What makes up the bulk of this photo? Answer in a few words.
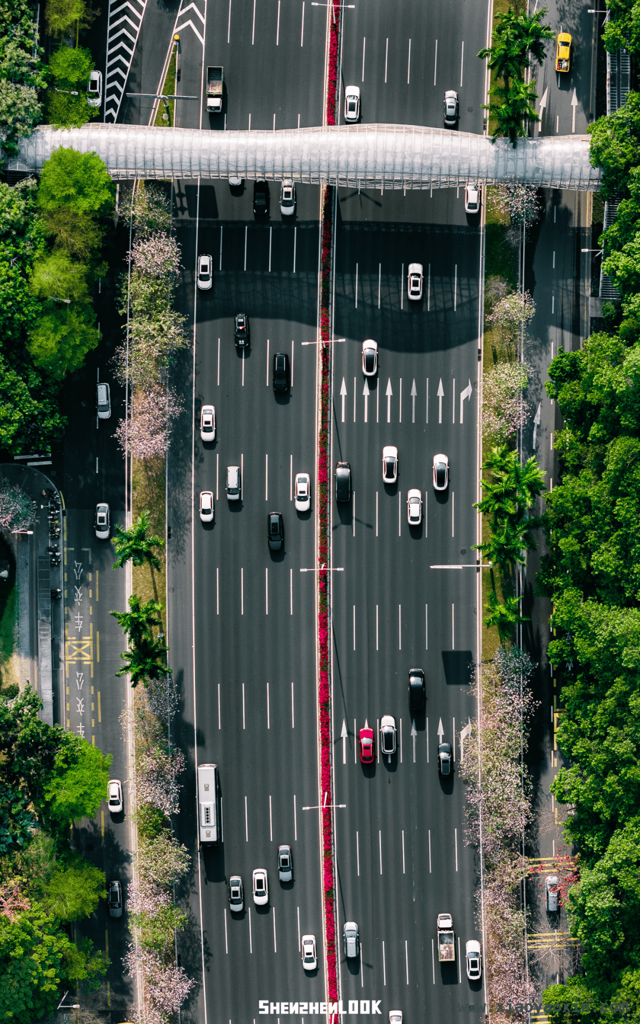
paved ground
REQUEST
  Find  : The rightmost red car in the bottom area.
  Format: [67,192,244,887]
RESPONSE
[359,727,375,764]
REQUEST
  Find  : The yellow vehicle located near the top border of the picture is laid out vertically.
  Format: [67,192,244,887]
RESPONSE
[555,33,573,74]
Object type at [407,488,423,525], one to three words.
car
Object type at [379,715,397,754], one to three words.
car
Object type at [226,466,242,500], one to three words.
vehicle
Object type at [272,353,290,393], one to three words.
vehicle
